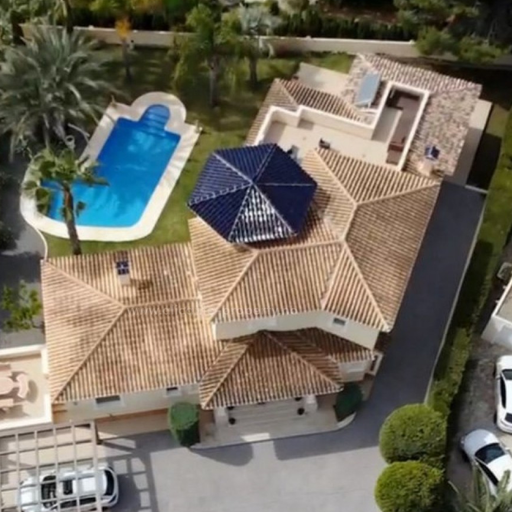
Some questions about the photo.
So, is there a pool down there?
Yes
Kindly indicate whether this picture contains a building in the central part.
Yes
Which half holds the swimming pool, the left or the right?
left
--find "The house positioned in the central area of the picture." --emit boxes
[41,52,482,448]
